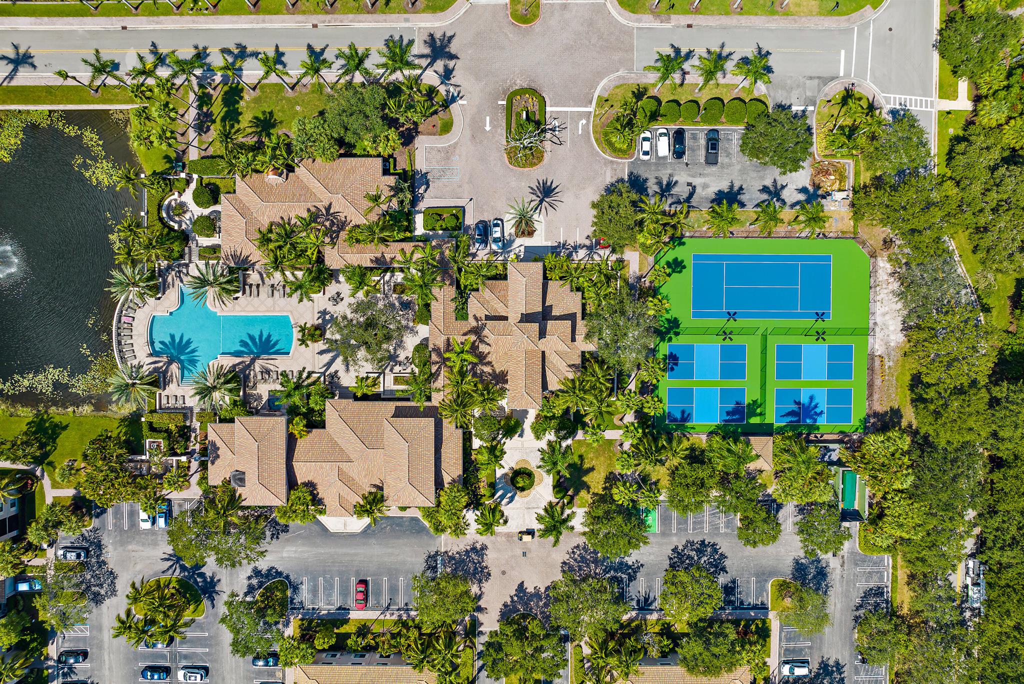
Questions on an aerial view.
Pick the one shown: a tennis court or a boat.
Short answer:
tennis court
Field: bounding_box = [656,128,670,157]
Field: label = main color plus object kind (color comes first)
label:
white car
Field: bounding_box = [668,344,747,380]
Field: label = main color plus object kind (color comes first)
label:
blue sports court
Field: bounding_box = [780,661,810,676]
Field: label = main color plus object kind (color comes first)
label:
white car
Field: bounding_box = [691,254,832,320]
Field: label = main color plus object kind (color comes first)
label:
blue tennis court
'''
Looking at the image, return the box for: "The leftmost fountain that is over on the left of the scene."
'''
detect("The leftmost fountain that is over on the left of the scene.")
[0,224,33,286]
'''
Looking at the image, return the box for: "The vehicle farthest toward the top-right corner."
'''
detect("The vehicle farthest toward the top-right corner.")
[704,130,719,165]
